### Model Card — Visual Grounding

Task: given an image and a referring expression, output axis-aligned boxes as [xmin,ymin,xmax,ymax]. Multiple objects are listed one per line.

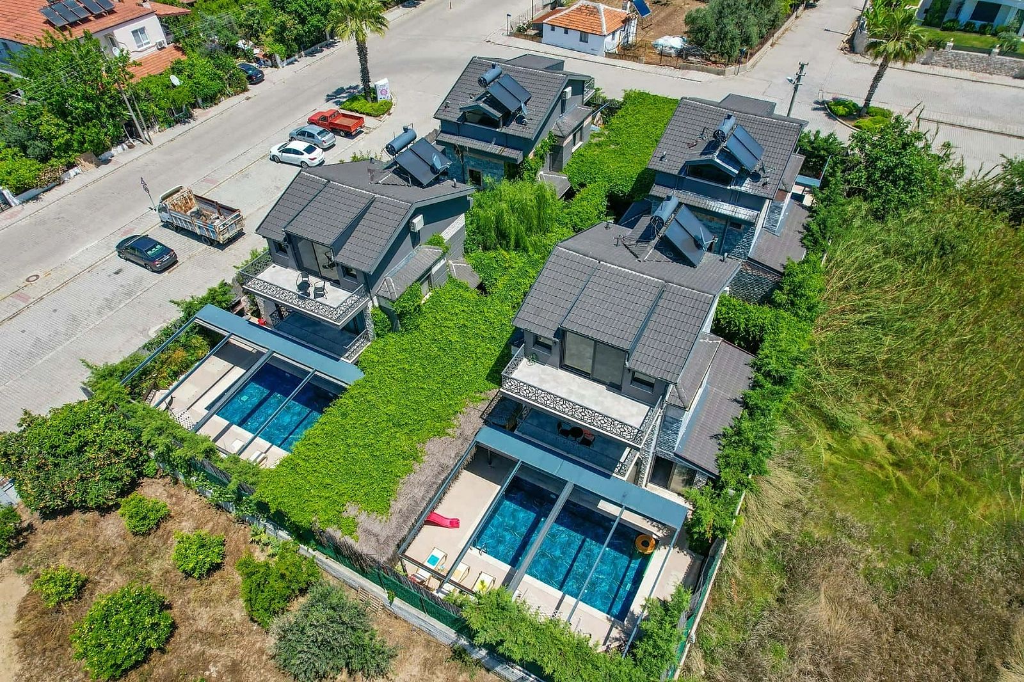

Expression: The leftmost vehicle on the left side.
[112,235,179,272]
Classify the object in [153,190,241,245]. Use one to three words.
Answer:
truck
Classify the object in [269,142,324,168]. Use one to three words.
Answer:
car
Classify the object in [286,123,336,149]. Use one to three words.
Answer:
car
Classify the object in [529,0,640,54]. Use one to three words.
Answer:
house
